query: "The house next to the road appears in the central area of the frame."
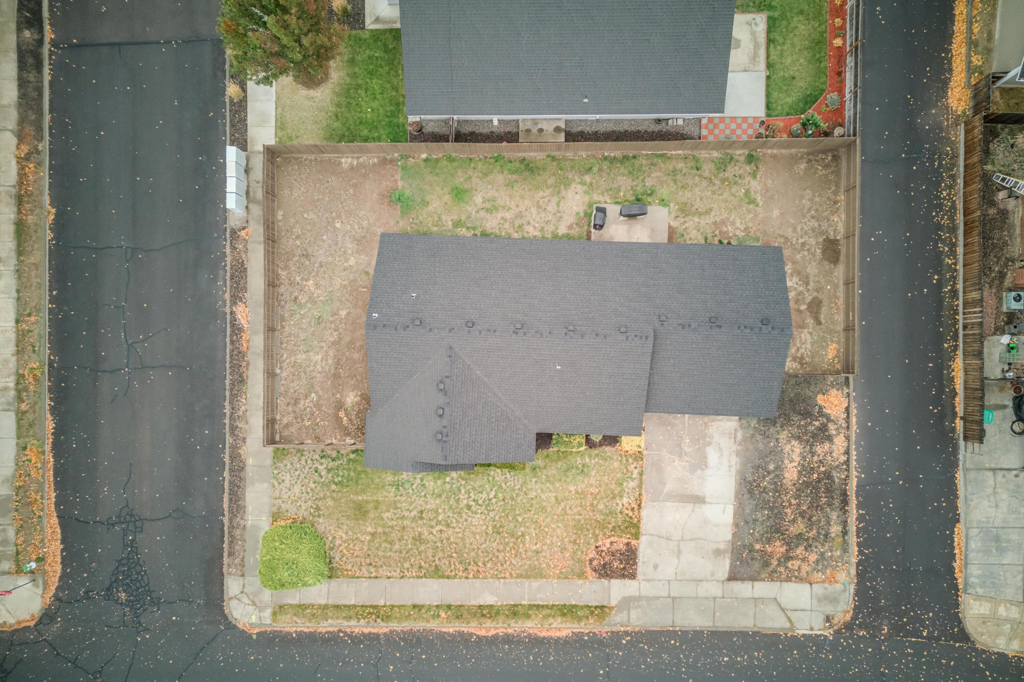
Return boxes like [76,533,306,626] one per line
[365,234,794,473]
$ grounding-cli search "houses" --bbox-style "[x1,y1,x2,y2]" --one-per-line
[389,0,737,127]
[991,0,1024,87]
[365,234,794,473]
